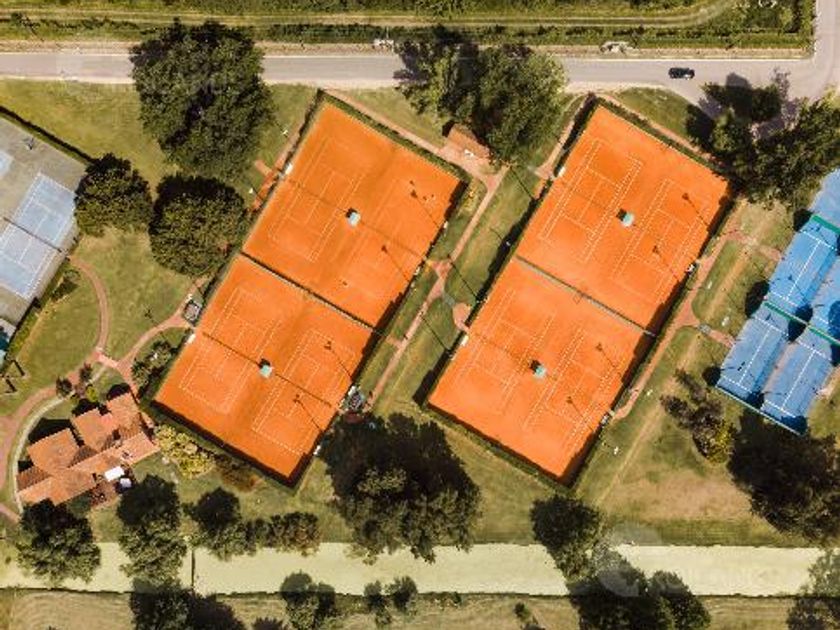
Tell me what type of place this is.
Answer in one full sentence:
The picture captures a sports ground.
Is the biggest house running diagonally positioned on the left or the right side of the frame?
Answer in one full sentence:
The biggest house running diagonally is on the left side of the image.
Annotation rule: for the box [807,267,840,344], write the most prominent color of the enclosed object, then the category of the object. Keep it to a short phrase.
blue sports court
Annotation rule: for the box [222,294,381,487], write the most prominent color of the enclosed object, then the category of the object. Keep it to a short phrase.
orange tennis court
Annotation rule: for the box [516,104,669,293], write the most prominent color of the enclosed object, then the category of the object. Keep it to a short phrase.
orange tennis court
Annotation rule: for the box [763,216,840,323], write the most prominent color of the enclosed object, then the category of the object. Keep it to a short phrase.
blue sports court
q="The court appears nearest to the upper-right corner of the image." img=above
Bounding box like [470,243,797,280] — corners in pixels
[808,161,840,233]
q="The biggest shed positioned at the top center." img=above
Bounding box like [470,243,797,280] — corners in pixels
[446,123,491,162]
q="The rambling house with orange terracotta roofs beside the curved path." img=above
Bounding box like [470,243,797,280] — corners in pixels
[14,387,165,514]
